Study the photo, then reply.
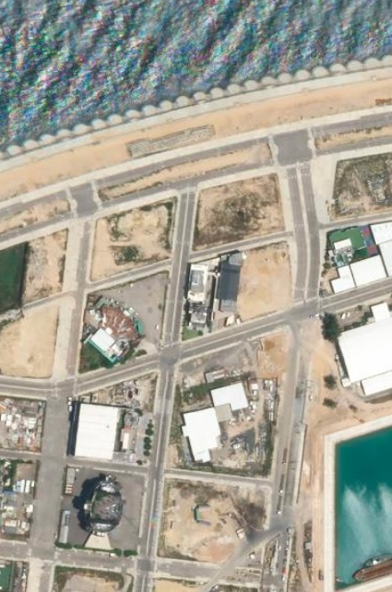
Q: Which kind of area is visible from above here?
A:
port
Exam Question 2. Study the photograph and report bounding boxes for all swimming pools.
[336,252,353,268]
